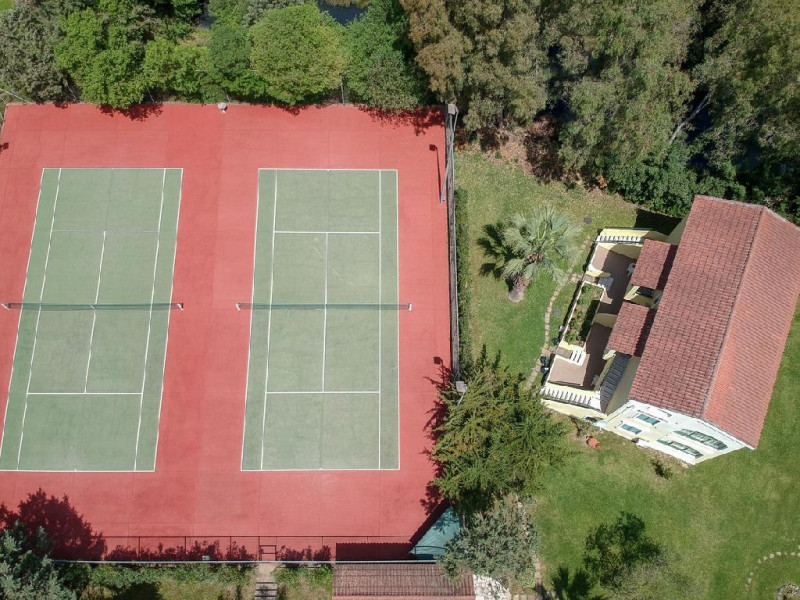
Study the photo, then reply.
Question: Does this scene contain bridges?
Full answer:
No, there appears to be no bridge in this shot.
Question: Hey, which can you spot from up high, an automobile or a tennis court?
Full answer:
I can see a tennis court in this picture.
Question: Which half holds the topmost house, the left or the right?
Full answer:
The topmost house sits on the right side.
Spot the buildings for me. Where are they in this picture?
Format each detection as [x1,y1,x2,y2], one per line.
[332,563,477,600]
[601,195,800,464]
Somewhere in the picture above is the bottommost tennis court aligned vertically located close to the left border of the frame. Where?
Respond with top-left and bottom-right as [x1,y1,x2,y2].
[0,167,183,472]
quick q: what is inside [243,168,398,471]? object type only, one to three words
tennis court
